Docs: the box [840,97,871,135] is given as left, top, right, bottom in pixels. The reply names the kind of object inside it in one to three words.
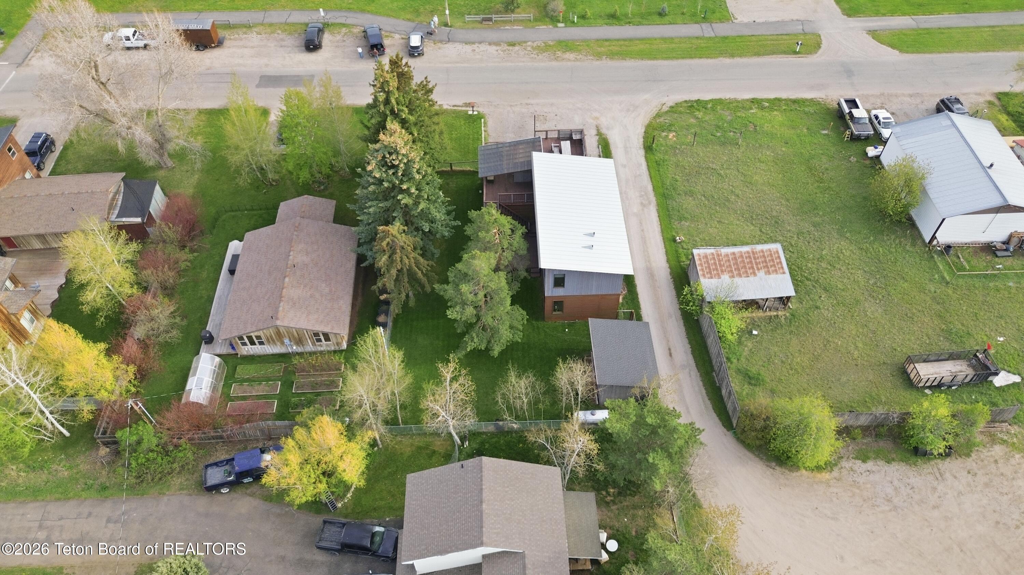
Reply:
truck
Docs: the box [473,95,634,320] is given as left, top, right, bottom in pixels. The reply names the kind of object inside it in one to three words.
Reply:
house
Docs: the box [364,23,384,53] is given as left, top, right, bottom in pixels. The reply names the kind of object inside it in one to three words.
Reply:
vehicle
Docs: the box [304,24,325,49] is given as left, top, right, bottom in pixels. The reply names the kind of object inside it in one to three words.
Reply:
car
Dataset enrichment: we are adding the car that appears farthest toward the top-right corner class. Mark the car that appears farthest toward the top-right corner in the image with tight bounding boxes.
[935,88,979,118]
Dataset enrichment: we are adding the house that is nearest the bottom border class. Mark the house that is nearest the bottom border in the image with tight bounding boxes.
[393,455,599,575]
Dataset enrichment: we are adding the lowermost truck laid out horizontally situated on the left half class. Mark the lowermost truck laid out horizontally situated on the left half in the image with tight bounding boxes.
[315,520,403,563]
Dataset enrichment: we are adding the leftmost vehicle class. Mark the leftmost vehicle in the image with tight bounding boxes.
[22,134,56,172]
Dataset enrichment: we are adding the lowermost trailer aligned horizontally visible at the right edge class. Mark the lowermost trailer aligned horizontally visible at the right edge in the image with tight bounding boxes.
[905,348,1003,387]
